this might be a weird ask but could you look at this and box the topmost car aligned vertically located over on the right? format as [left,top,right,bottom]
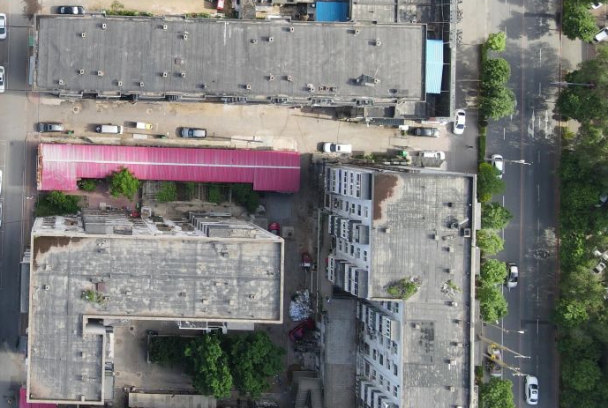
[452,108,465,136]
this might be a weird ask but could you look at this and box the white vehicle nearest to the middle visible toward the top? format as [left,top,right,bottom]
[323,141,351,153]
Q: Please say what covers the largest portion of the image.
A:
buildings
